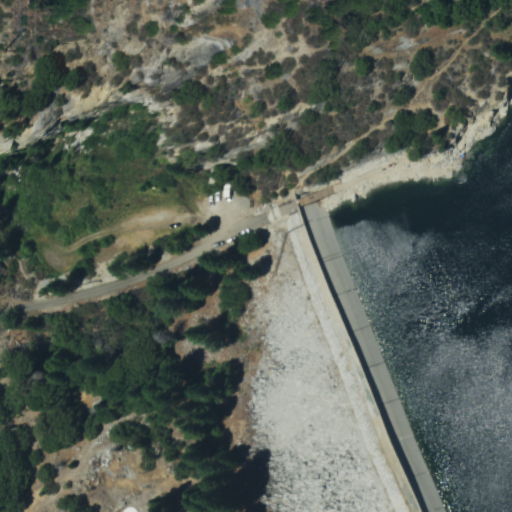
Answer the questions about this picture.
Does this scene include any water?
Yes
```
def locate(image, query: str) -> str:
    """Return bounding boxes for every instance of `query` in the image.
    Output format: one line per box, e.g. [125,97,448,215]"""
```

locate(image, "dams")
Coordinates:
[242,200,446,512]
